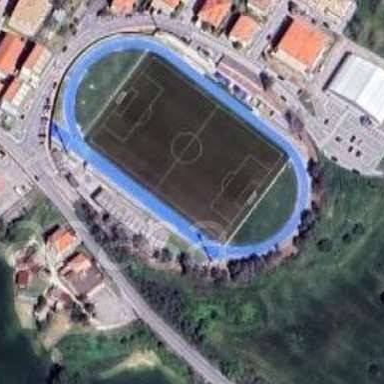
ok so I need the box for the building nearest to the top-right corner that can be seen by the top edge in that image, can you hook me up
[301,0,358,38]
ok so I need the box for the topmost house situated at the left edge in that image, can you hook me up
[6,0,51,44]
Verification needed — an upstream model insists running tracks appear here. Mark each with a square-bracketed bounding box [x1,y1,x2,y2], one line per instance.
[52,36,314,262]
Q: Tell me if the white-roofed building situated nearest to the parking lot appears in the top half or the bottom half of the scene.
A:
top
